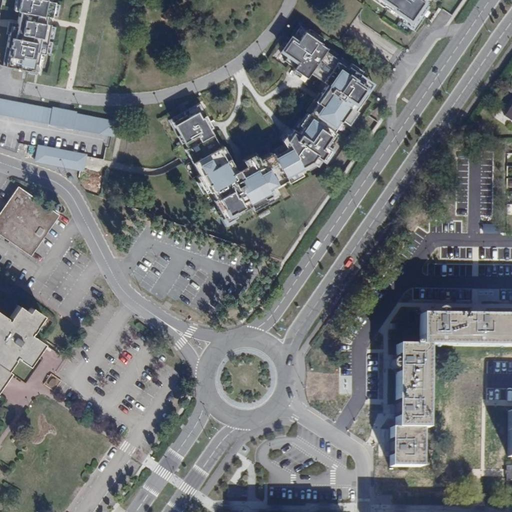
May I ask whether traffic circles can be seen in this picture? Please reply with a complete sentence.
Yes, a traffic circle can be made out from above.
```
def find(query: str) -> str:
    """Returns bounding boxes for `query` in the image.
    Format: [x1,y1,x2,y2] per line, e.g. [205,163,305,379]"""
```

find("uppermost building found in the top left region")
[6,0,60,78]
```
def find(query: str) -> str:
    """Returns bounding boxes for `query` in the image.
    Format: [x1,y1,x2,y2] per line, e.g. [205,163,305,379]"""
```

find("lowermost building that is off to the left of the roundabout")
[0,308,50,391]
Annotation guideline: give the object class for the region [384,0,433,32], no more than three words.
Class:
house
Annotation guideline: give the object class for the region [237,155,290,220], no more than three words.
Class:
building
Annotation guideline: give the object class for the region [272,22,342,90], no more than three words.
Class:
building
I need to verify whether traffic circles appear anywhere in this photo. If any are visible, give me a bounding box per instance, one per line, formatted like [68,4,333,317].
[193,325,300,432]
